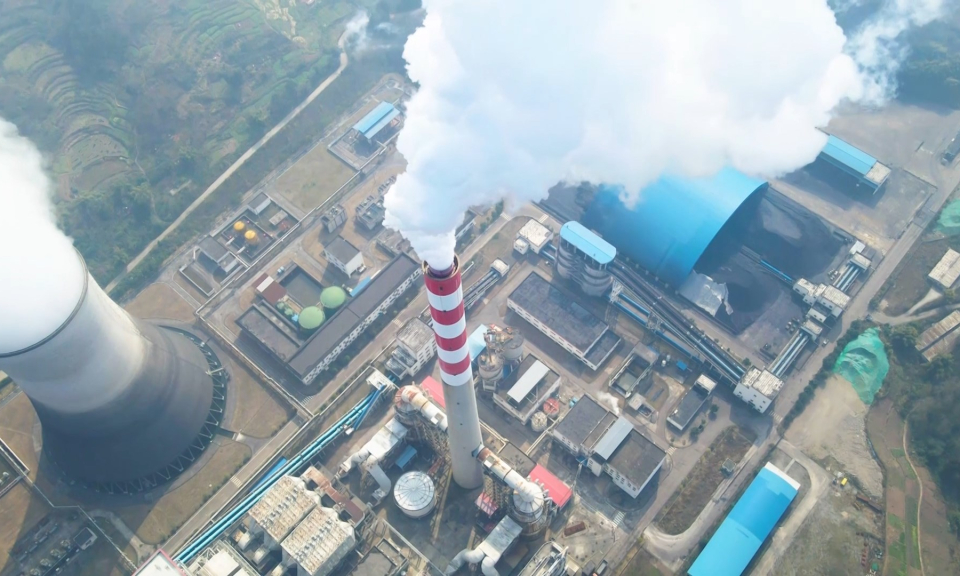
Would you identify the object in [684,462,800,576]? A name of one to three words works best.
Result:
warehouse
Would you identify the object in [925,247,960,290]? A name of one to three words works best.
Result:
shed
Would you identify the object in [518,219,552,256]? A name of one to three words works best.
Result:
house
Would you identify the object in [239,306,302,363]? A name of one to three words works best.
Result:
building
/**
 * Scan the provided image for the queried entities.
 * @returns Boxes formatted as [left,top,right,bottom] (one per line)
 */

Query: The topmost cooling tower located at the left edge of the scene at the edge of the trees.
[0,231,238,508]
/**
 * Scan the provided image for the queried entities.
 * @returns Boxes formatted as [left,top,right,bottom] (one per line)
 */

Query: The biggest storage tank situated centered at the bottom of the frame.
[395,472,437,515]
